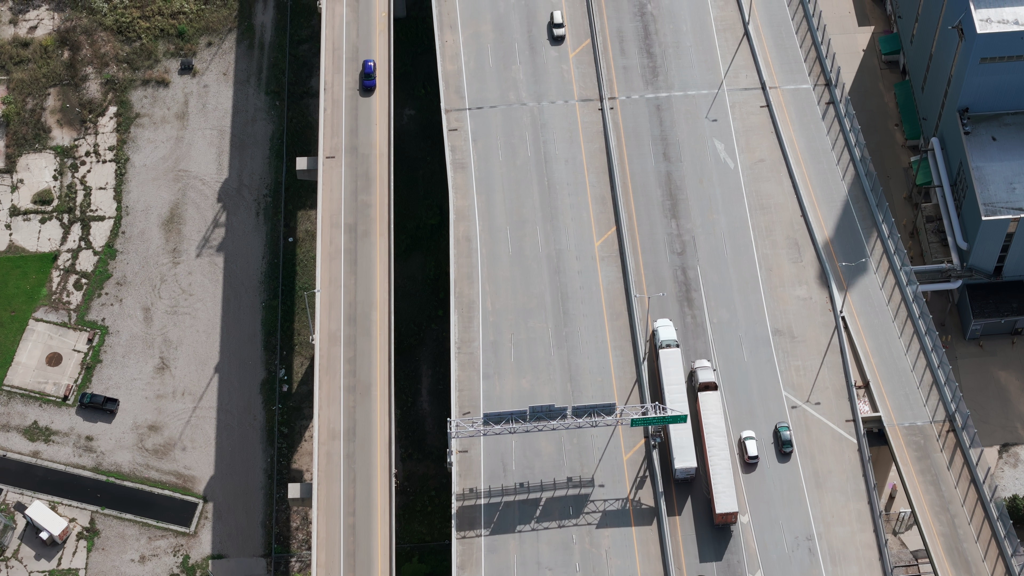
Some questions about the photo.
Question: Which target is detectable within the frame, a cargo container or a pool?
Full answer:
This aerial view contains a cargo container.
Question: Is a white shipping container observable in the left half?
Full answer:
Yes, looking in the left half, one can make out a white shipping container.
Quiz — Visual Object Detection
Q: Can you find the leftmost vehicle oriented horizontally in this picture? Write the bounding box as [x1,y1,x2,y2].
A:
[77,389,123,412]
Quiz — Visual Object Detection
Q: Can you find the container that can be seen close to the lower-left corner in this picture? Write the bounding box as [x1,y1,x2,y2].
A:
[24,500,72,544]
